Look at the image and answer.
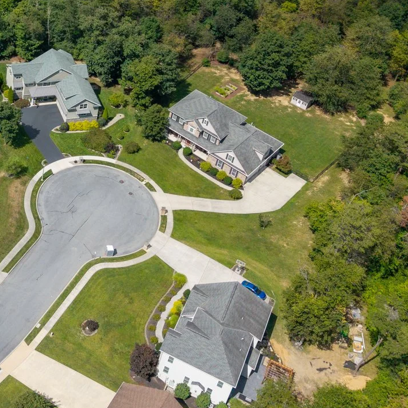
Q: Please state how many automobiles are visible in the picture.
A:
1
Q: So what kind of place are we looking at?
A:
residential area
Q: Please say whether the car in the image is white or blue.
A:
blue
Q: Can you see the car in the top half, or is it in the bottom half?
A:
bottom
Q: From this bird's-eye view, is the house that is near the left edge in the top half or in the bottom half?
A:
top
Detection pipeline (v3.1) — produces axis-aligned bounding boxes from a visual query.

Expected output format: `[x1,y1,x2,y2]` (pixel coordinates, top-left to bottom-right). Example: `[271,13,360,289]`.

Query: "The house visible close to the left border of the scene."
[8,46,101,122]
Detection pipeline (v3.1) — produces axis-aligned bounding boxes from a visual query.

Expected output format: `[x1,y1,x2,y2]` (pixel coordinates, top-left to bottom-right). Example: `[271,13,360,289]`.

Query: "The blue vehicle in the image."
[241,280,268,301]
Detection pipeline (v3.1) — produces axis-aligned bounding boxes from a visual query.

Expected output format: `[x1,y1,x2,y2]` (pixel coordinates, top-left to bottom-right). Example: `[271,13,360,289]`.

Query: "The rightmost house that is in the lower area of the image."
[159,283,270,403]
